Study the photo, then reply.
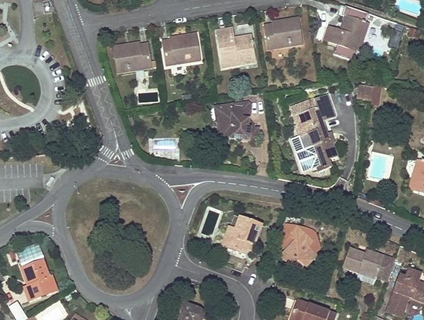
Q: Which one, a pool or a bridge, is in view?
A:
pool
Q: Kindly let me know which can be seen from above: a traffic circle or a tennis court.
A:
traffic circle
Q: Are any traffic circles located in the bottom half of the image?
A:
Yes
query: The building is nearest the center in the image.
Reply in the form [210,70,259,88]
[213,100,254,140]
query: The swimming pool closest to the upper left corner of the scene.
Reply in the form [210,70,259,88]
[138,92,159,104]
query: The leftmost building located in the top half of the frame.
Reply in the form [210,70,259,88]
[112,41,154,76]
